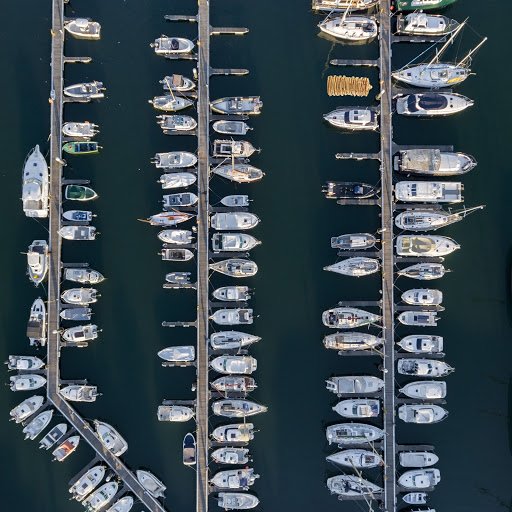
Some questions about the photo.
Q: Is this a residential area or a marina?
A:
marina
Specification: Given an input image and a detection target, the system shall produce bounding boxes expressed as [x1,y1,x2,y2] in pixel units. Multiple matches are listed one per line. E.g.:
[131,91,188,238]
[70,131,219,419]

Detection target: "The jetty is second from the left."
[162,0,250,512]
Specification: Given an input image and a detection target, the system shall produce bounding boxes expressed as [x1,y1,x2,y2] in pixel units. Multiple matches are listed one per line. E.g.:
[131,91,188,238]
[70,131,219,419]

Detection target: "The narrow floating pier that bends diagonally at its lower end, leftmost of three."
[18,0,168,512]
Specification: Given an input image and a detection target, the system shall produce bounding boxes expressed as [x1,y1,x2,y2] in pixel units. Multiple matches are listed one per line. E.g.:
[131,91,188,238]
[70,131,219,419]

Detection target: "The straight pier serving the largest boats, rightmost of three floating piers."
[329,0,454,512]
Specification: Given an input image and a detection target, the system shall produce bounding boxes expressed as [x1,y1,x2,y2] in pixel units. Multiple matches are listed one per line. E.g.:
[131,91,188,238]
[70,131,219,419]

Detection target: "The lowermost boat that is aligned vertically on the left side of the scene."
[182,427,198,465]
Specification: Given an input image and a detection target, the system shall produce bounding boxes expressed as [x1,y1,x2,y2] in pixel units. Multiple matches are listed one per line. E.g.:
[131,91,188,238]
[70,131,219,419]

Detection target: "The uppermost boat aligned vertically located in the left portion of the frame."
[22,144,52,218]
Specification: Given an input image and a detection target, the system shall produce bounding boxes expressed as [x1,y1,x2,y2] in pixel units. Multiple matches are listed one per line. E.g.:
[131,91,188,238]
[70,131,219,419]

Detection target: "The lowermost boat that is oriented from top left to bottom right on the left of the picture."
[136,469,166,497]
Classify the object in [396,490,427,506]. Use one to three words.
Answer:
boat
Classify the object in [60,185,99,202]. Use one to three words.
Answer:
boat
